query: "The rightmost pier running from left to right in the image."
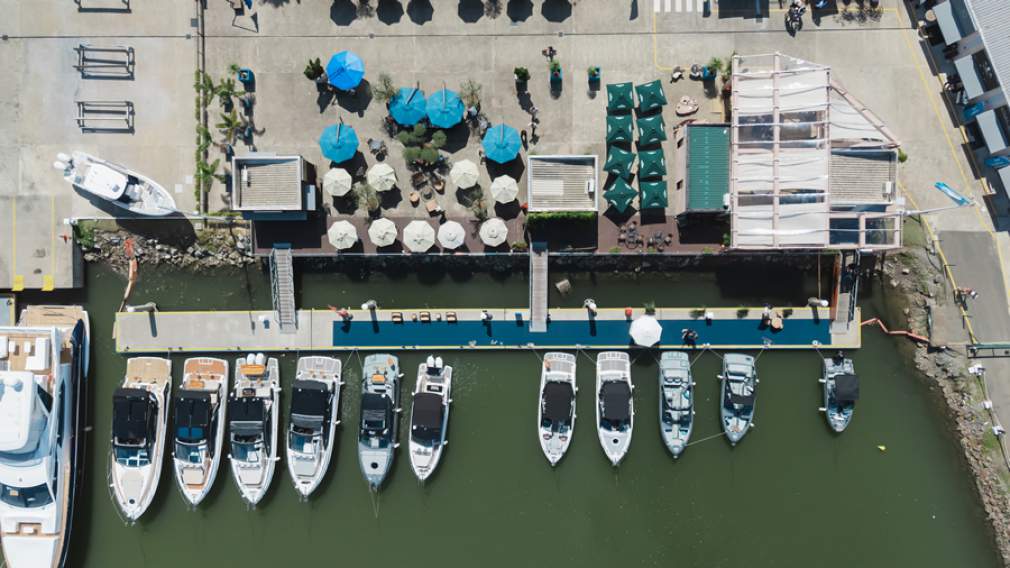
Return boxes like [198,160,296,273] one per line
[115,311,861,350]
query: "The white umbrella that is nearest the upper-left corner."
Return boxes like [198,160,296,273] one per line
[322,168,354,197]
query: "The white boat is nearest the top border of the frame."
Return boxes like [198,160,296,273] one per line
[51,149,181,215]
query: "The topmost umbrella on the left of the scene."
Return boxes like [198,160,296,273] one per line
[326,53,366,94]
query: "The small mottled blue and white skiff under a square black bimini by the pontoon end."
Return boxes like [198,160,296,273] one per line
[816,352,861,435]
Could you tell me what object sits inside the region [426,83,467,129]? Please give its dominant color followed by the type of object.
blue umbrella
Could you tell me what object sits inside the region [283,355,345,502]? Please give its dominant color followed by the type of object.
white boat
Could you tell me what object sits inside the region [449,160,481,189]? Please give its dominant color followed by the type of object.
white umbrella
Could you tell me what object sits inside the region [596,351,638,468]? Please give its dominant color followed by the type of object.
white boat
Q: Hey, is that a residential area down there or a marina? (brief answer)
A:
marina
